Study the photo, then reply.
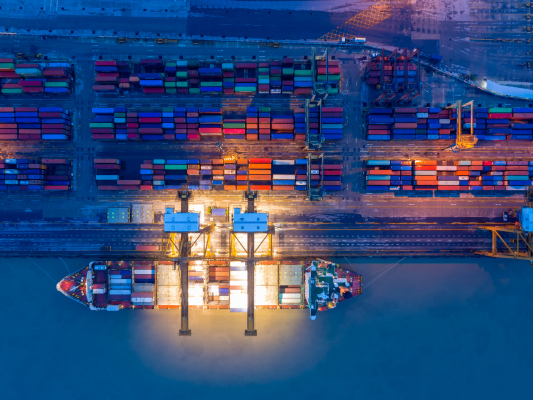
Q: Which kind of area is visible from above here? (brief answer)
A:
port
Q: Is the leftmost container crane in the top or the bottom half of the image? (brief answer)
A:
bottom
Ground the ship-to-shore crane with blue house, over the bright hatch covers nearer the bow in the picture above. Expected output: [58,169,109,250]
[160,190,221,338]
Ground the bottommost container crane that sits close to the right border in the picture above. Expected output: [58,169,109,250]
[468,190,533,269]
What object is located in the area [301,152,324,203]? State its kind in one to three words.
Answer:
container crane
